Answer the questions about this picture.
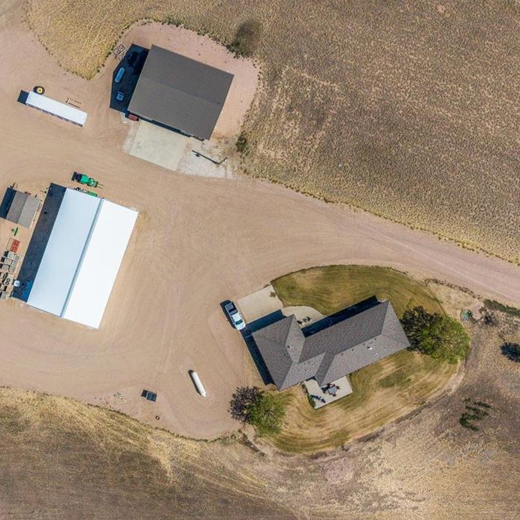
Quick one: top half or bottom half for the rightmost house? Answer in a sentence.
You can find the rightmost house in the bottom half.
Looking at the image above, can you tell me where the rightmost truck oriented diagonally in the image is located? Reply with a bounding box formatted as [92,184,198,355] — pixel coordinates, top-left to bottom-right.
[223,299,245,330]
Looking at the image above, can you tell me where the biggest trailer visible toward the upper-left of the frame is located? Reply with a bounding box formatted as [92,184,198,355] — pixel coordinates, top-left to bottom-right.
[26,92,87,127]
